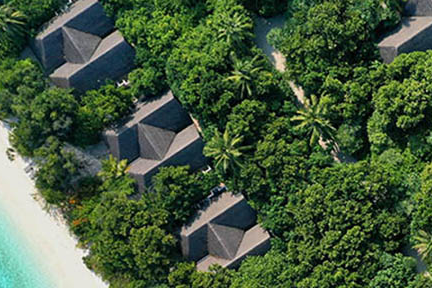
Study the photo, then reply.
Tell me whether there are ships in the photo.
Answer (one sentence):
No, no ship can be seen from above.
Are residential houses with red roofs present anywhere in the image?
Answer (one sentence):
No, the scene contains no residential house with a red roof.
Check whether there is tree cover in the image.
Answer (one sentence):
Yes, some tree cover is visible.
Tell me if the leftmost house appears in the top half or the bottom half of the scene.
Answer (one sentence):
You can find the leftmost house in the top half.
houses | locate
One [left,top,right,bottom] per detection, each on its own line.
[28,0,145,105]
[371,0,432,82]
[104,93,219,198]
[174,190,287,288]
